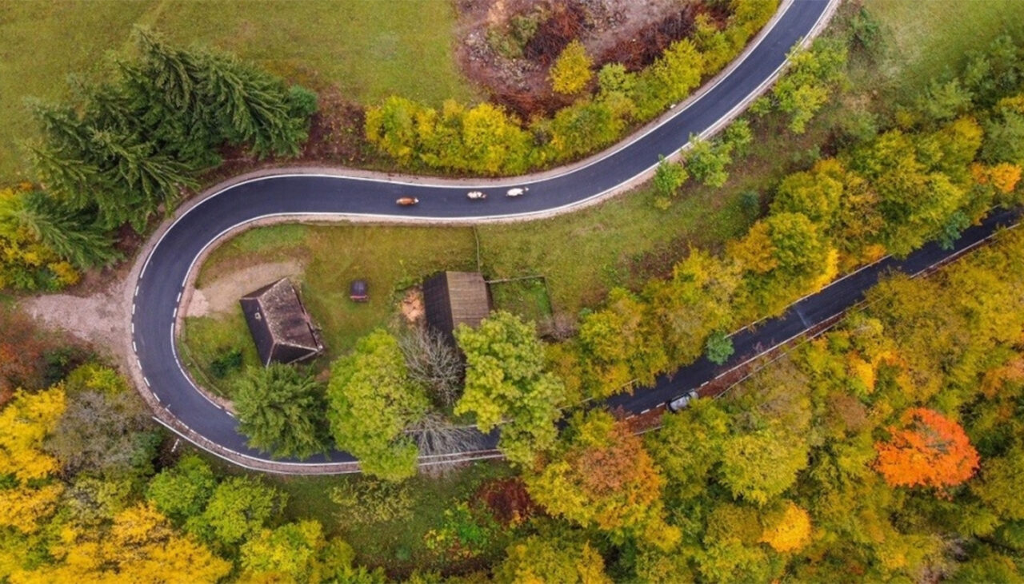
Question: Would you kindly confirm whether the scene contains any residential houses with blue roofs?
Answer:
No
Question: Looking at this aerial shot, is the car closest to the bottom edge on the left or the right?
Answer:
right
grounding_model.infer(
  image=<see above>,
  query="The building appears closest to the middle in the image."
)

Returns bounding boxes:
[423,270,491,355]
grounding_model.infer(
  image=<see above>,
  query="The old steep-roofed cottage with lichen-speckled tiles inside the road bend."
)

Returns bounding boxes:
[238,278,318,370]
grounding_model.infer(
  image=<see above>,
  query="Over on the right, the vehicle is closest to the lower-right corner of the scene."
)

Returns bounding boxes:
[665,390,696,413]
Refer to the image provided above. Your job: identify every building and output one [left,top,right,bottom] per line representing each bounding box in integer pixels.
[423,270,491,355]
[238,278,318,370]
